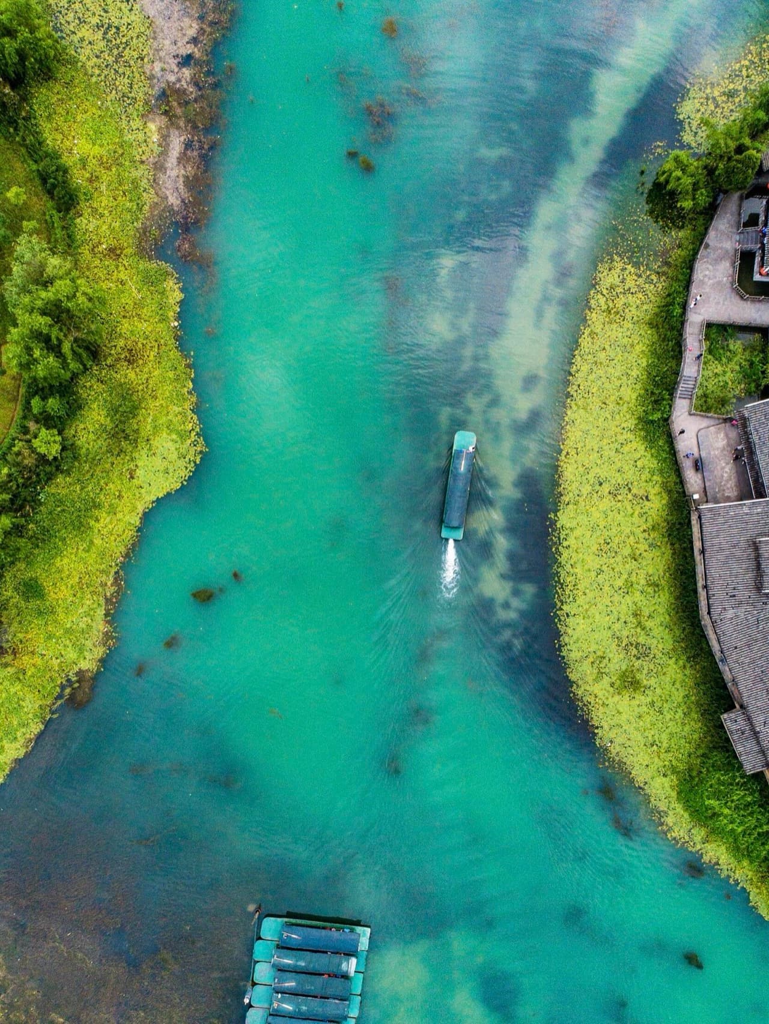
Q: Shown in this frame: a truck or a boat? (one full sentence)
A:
The one in the frame is a boat.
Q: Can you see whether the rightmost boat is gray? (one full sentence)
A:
No, the rightmost boat is blue.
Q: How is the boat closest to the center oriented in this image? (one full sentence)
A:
In this picture, the boat closest to the center lies up and down.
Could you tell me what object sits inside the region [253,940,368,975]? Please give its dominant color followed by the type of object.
blue boat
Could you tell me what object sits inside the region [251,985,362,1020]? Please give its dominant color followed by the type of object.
blue boat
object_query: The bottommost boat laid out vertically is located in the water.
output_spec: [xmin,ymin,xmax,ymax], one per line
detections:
[441,431,475,540]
